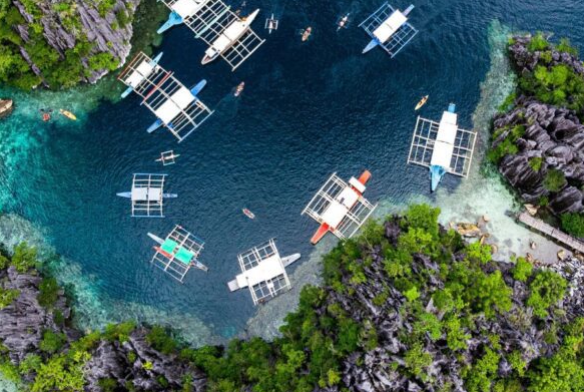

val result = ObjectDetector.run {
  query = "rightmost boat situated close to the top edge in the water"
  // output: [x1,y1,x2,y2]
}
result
[358,1,419,59]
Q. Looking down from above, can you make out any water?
Yes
